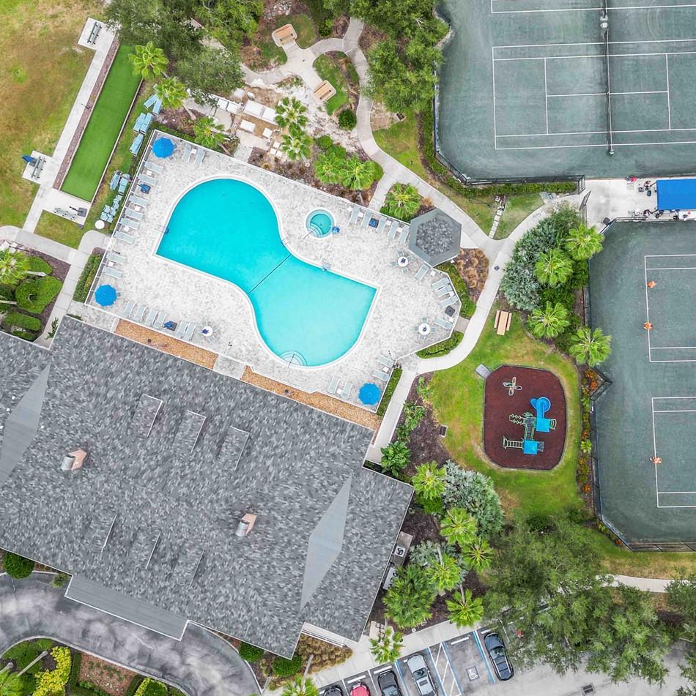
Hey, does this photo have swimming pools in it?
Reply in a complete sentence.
Yes, you can see a swimming pool in this photo.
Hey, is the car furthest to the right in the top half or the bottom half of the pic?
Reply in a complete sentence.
The car furthest to the right sits in the bottom half of the picture.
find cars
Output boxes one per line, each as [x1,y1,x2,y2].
[483,630,516,685]
[406,652,438,696]
[349,681,371,696]
[377,667,404,696]
[322,685,341,696]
